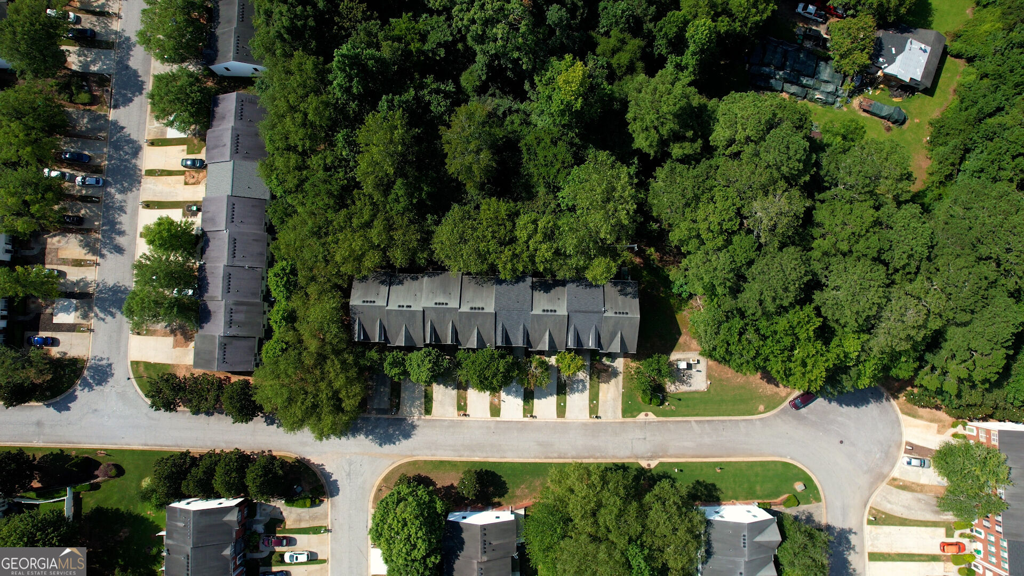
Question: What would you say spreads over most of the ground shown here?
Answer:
trees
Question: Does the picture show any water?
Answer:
No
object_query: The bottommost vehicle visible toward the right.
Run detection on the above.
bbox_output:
[938,541,966,555]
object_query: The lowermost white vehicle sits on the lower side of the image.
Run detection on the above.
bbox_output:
[284,550,311,564]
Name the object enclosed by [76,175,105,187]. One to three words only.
vehicle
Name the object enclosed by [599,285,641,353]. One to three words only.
house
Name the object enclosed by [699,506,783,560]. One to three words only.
house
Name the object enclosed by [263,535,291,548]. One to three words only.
vehicle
